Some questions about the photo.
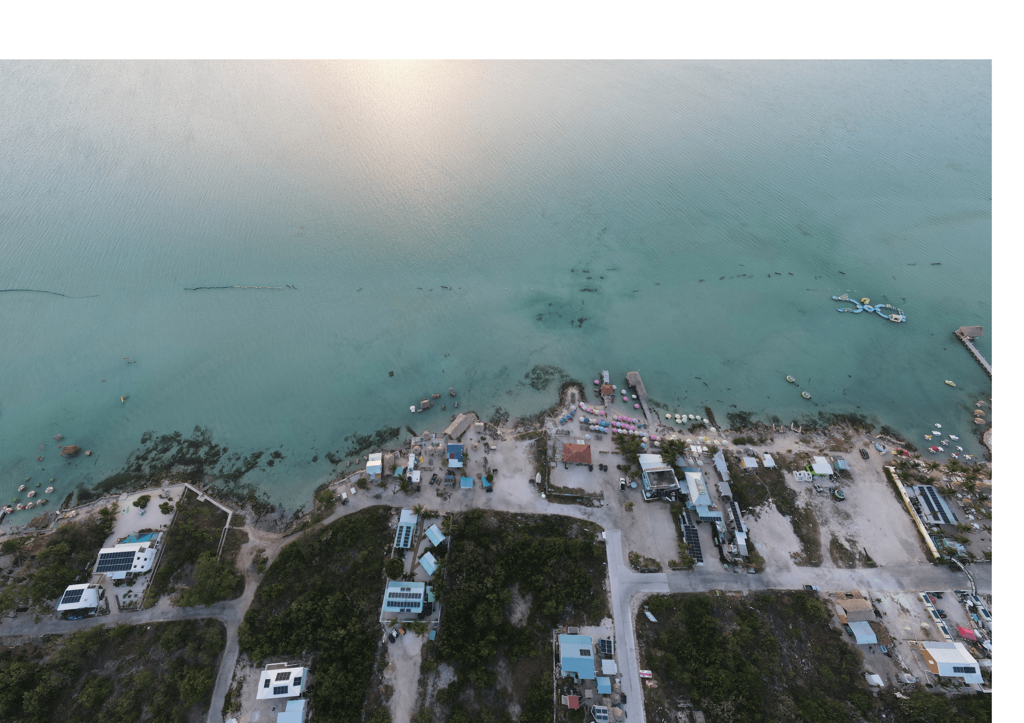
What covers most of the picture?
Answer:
water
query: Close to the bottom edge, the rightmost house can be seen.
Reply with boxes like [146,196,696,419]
[909,642,985,691]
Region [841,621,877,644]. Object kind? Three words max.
building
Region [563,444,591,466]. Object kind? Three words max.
house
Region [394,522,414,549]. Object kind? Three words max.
house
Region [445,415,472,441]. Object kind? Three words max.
building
